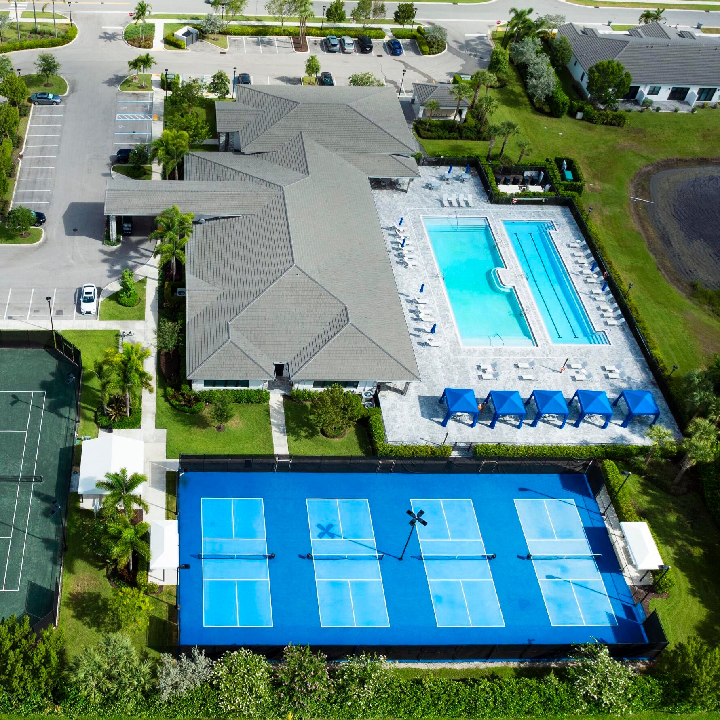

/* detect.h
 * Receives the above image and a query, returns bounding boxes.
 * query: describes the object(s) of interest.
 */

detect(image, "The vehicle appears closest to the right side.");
[387,39,405,56]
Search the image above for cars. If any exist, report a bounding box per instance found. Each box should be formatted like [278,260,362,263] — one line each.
[320,71,336,85]
[387,39,405,56]
[112,147,144,162]
[120,217,136,240]
[340,38,356,53]
[238,71,252,84]
[79,284,97,315]
[358,37,375,53]
[324,36,341,52]
[31,91,63,104]
[15,211,51,226]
